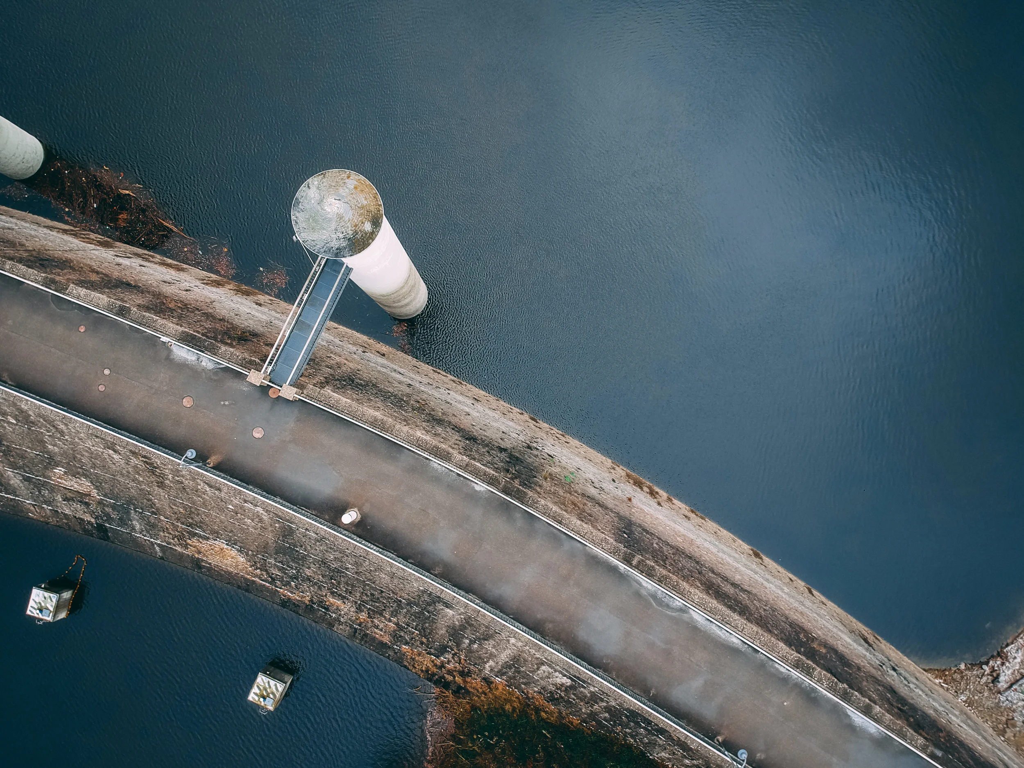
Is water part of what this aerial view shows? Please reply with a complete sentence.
Yes, water can be seen from above here.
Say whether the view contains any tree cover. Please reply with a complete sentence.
No, tree cover can't be seen anywhere here.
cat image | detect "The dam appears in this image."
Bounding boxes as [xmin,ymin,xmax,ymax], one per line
[0,203,1024,768]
